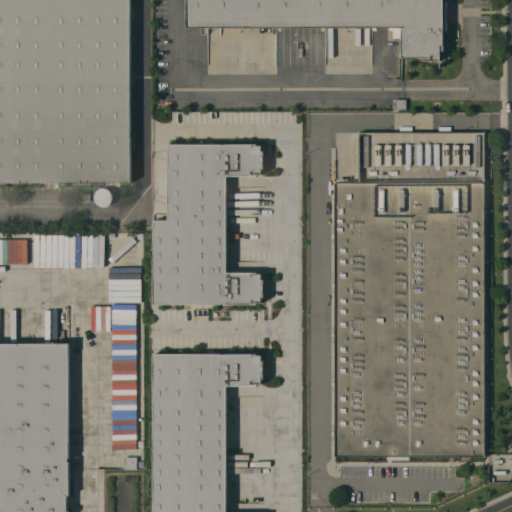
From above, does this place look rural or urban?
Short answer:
urban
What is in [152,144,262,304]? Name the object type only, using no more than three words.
building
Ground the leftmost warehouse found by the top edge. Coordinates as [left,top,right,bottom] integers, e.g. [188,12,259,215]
[0,0,134,184]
